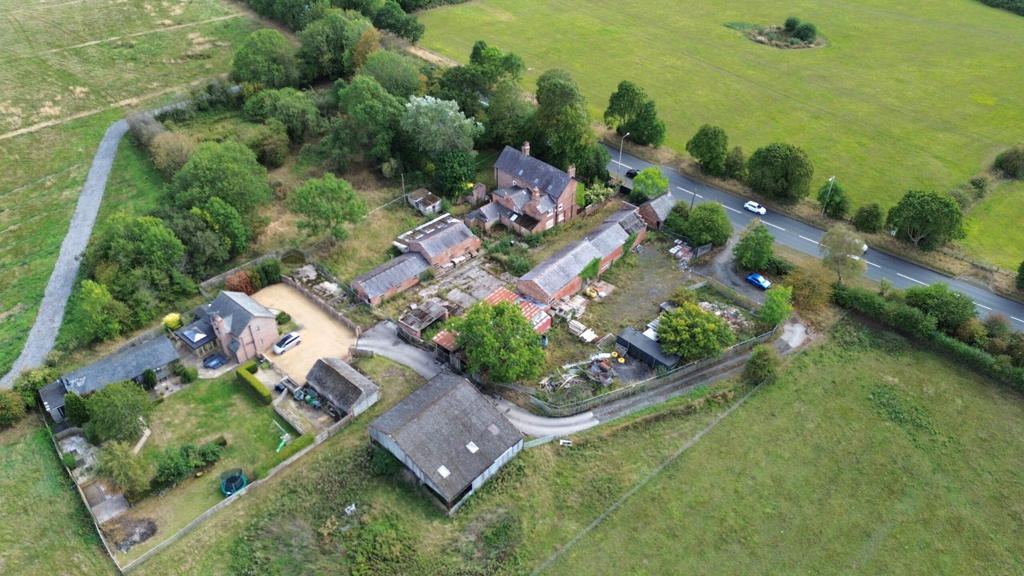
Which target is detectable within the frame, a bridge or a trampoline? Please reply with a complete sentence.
Visible in the photo is a trampoline.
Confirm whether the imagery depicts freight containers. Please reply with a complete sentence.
Yes, there's a freight container down there.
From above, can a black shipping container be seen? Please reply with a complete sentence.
Yes, a black shipping container appears in the view.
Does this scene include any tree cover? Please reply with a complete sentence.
Yes, tree cover shows up in the scene.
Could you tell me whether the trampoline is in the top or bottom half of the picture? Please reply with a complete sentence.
Seen from above, the trampoline lies in the bottom half of the view.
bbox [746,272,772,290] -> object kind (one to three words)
car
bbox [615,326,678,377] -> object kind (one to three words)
shipping container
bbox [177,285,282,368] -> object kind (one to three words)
house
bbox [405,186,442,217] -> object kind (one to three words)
shed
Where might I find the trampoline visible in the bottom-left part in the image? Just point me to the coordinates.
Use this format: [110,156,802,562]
[216,468,247,497]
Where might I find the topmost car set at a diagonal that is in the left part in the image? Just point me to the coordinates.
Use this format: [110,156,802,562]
[272,333,302,355]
